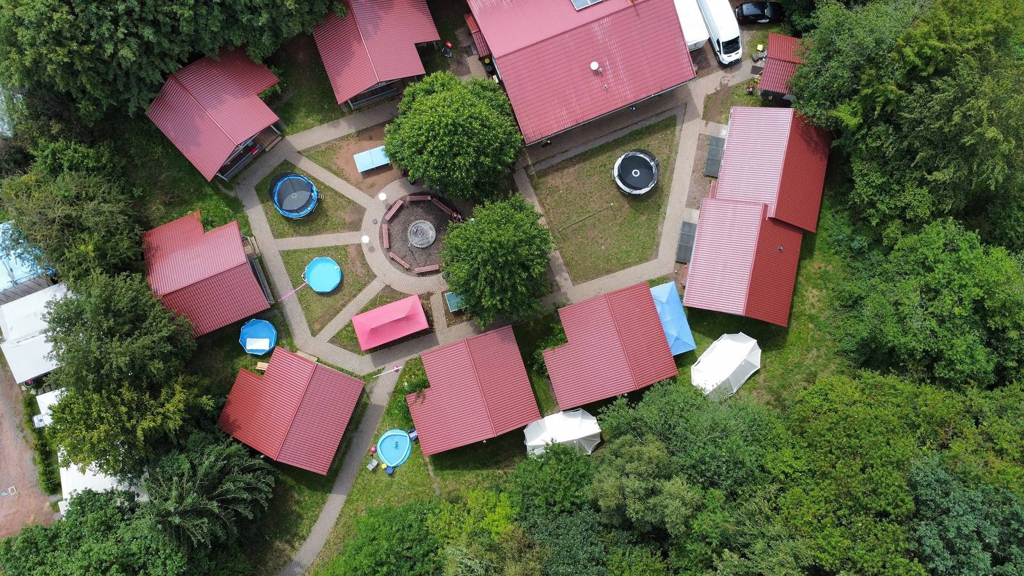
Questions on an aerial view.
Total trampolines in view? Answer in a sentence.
The count of trampolines comes to 2.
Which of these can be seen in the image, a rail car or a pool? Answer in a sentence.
The image shows a pool.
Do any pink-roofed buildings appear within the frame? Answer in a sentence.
Yes, there's a pink-roofed building here.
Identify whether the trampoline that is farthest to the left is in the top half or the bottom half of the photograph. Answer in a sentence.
The trampoline that is farthest to the left sits in the top half of the picture.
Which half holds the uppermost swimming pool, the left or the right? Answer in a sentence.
The uppermost swimming pool is on the left side of the image.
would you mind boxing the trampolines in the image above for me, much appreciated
[265,169,327,220]
[611,145,663,196]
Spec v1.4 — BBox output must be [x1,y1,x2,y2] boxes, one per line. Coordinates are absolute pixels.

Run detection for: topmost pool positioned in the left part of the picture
[299,257,343,294]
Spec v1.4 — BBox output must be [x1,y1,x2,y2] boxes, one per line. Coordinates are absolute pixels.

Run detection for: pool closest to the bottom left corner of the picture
[239,317,281,356]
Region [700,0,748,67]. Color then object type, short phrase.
white van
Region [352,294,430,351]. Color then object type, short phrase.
pink gazebo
